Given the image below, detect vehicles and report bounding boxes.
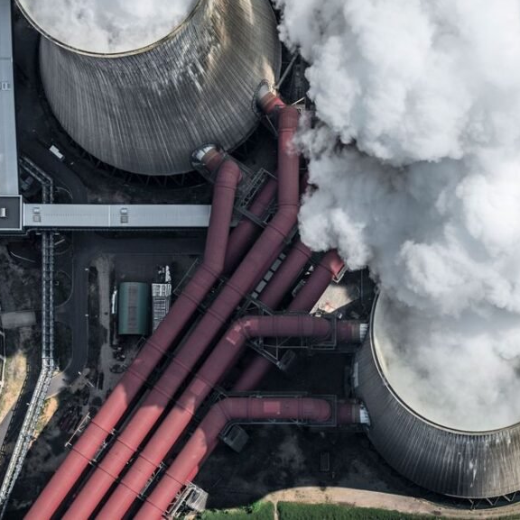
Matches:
[50,145,64,160]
